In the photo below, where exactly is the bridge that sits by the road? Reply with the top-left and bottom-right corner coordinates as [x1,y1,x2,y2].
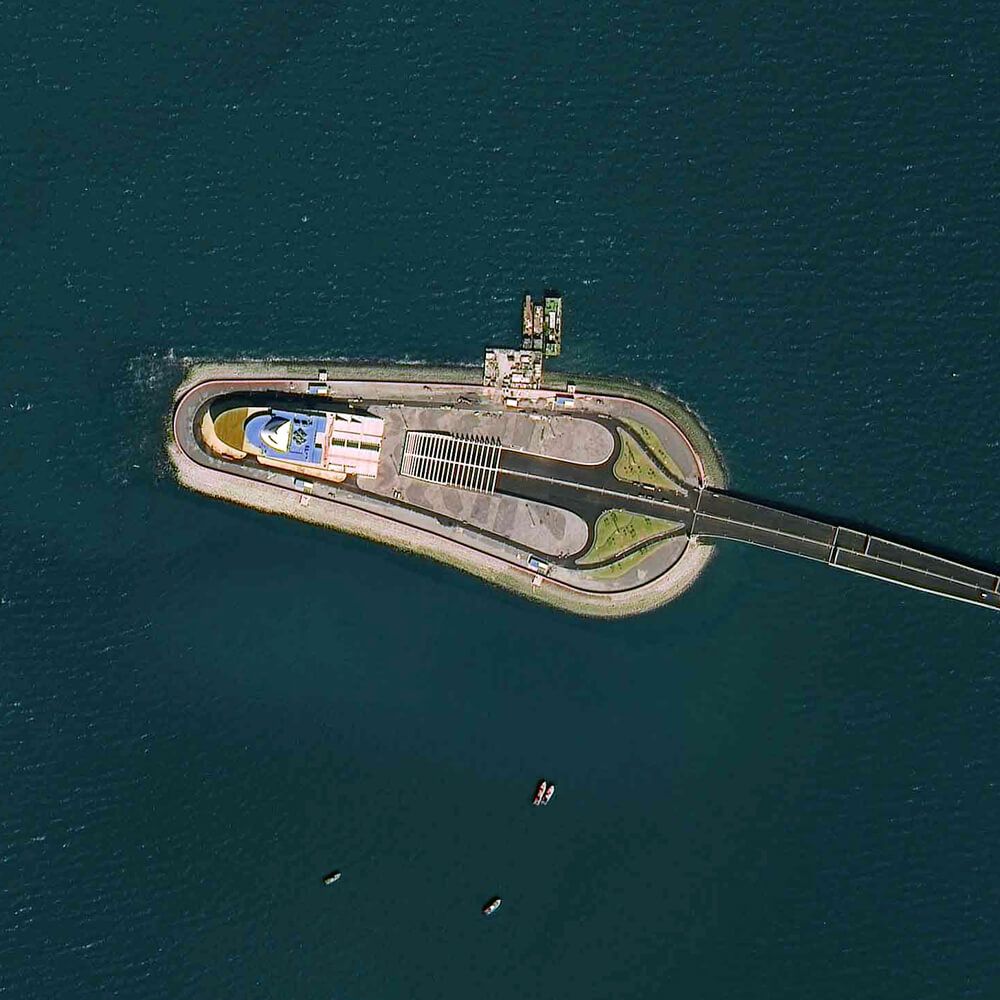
[690,488,1000,610]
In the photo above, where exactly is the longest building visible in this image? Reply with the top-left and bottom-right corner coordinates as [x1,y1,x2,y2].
[202,403,384,482]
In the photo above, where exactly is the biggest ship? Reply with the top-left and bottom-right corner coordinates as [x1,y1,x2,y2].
[545,299,562,356]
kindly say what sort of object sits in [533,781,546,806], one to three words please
boat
